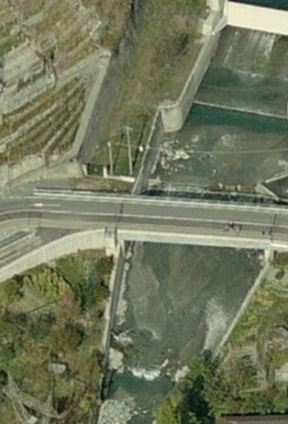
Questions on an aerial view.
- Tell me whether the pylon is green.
No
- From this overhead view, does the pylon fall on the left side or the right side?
left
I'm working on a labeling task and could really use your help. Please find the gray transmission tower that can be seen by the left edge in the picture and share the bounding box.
[1,375,75,424]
